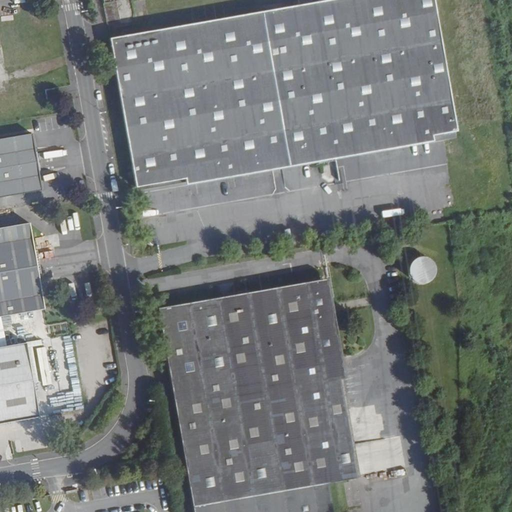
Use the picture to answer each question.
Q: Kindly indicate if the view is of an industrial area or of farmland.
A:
industrial area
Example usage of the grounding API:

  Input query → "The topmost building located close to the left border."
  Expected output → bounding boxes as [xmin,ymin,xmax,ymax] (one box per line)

[0,133,42,197]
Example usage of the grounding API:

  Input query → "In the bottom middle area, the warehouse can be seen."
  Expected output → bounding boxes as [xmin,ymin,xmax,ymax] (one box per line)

[160,280,360,512]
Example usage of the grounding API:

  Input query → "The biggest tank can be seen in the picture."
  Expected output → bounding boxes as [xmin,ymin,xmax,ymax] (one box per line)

[403,256,438,285]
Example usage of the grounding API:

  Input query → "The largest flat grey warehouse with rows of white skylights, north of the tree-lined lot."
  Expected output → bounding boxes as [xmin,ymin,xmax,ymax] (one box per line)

[112,0,459,192]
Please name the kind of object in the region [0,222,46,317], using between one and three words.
building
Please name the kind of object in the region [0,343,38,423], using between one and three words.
building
